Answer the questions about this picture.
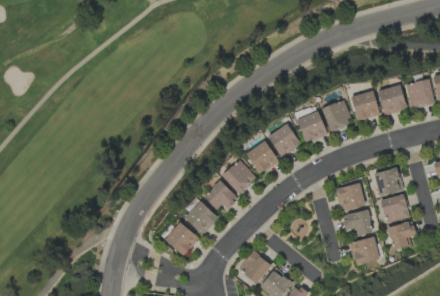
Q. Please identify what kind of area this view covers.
golf course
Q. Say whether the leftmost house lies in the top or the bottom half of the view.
bottom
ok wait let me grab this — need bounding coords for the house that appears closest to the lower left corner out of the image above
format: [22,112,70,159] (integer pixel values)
[166,222,198,256]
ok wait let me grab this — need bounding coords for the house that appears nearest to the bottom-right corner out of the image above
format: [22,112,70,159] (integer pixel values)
[388,222,416,250]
